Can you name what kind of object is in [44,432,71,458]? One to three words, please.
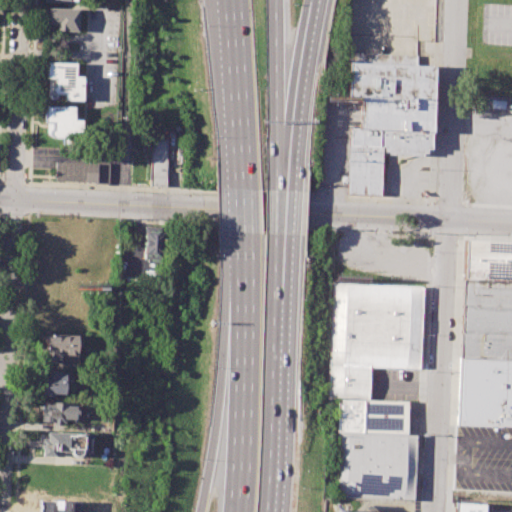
house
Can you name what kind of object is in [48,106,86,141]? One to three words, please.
building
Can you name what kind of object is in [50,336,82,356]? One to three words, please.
house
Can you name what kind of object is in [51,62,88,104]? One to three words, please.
building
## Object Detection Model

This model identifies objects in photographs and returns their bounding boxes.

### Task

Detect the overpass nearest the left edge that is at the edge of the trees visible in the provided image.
[220,189,264,235]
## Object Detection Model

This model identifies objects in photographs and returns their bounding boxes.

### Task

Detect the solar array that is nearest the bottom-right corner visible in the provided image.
[362,475,402,496]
